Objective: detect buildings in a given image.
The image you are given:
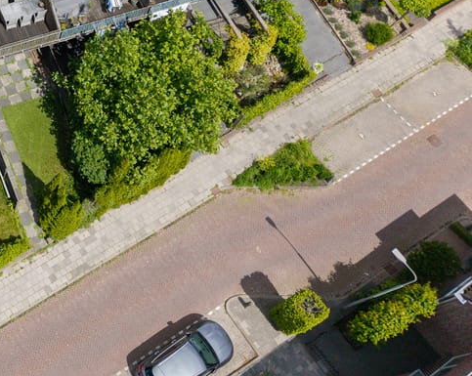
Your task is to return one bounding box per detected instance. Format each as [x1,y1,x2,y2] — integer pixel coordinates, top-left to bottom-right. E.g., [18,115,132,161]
[438,283,472,347]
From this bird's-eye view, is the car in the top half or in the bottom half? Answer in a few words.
bottom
